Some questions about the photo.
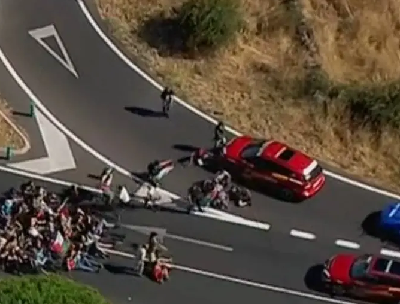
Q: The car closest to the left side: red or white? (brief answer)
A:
red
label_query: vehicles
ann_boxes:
[325,245,400,300]
[220,131,329,195]
[383,197,400,239]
